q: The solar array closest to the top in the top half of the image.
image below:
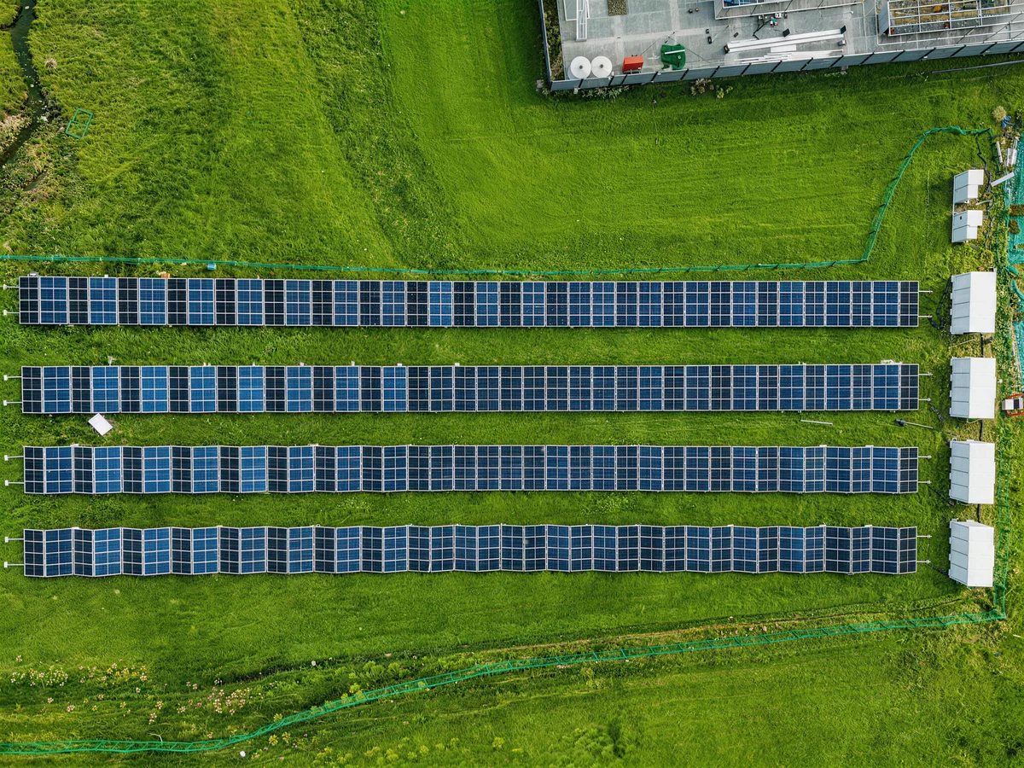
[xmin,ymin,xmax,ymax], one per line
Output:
[3,274,931,329]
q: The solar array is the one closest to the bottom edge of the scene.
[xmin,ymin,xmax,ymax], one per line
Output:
[5,522,931,578]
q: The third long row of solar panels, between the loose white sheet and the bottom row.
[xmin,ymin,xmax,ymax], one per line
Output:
[5,443,931,494]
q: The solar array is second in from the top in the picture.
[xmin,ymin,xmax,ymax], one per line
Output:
[4,362,931,414]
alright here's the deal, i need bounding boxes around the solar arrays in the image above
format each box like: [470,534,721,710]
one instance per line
[3,274,931,329]
[5,522,931,578]
[4,362,931,414]
[5,443,931,494]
